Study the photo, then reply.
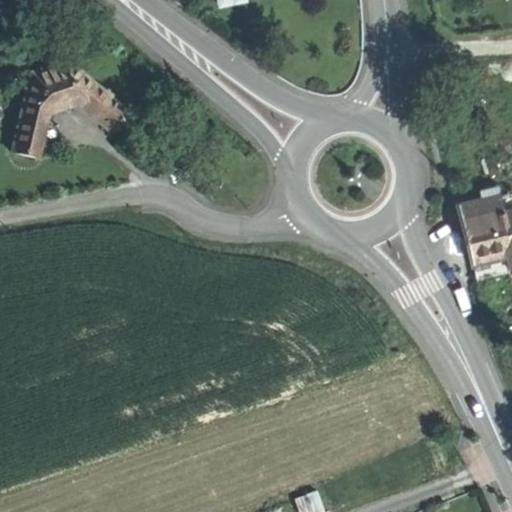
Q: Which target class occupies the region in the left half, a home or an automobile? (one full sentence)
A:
The one visible in the left half is a home.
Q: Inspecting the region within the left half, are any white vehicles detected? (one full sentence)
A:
No, I can find no white vehicle within the left half.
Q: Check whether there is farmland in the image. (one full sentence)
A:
Yes, farmland can be seen from above here.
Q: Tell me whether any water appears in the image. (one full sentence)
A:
No, there is no water in the image.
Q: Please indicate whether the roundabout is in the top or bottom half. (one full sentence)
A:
You can find the roundabout in the top half.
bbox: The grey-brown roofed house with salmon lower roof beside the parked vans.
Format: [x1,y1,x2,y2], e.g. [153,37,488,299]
[458,186,512,272]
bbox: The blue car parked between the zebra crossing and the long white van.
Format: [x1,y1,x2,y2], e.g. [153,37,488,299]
[439,260,458,284]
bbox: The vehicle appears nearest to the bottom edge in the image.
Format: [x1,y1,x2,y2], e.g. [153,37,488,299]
[466,396,484,418]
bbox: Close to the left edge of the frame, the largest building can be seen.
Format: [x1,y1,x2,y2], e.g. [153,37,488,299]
[20,66,126,159]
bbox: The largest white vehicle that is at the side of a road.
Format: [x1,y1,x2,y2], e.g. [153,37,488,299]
[454,288,474,317]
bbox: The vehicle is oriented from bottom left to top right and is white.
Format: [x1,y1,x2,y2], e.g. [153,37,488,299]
[430,225,452,243]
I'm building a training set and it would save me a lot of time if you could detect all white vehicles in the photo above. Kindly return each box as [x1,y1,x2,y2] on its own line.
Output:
[430,225,452,243]
[454,288,474,317]
[466,396,484,418]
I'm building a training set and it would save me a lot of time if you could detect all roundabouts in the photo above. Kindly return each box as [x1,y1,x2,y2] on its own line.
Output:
[274,98,430,255]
